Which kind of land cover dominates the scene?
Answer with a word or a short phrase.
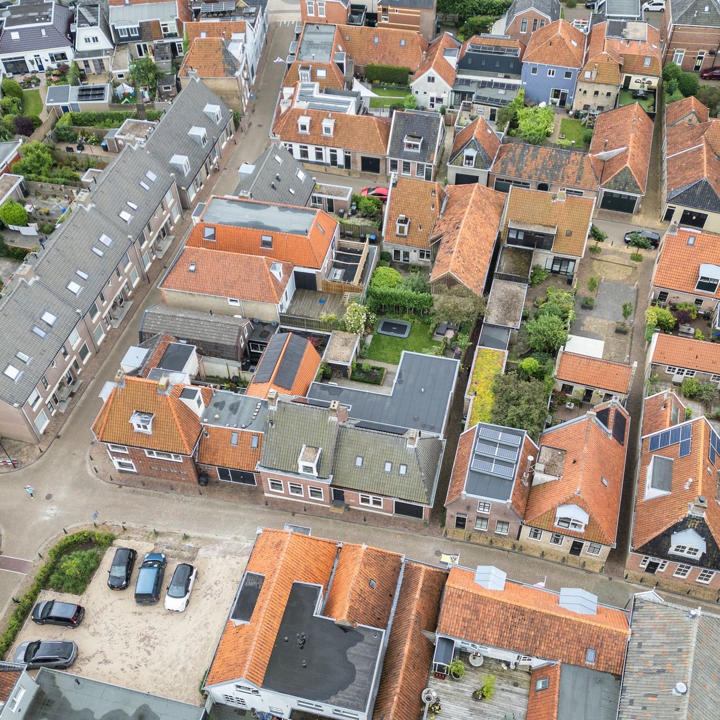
buildings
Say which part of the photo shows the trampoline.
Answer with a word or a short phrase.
center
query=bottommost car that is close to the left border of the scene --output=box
[12,641,75,670]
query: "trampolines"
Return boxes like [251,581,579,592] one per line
[377,319,411,340]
